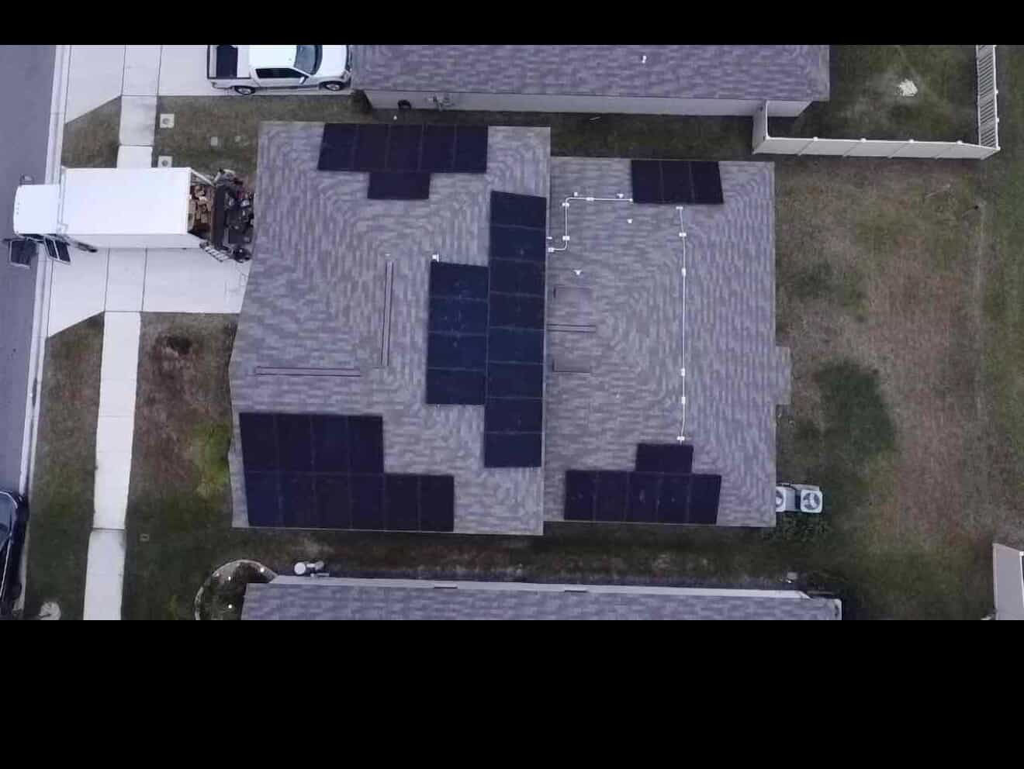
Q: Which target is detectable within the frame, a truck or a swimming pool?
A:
truck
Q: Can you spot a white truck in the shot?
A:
Yes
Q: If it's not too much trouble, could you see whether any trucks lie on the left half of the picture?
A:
Yes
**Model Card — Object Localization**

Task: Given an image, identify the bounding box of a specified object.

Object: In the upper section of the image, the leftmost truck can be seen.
[3,165,235,270]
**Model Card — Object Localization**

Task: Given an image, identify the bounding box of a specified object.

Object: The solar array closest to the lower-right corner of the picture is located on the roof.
[564,444,721,525]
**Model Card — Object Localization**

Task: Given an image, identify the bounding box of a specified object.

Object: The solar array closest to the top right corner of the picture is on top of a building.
[631,159,723,204]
